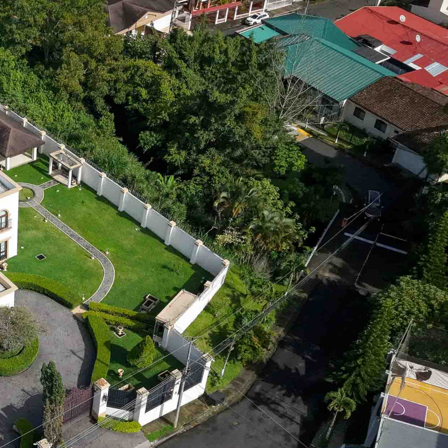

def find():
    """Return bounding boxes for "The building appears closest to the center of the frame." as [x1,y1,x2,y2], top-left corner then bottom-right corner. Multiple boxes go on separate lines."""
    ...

[154,289,199,352]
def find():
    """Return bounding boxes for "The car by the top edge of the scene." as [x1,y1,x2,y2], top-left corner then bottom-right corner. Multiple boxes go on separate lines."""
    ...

[246,7,280,26]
